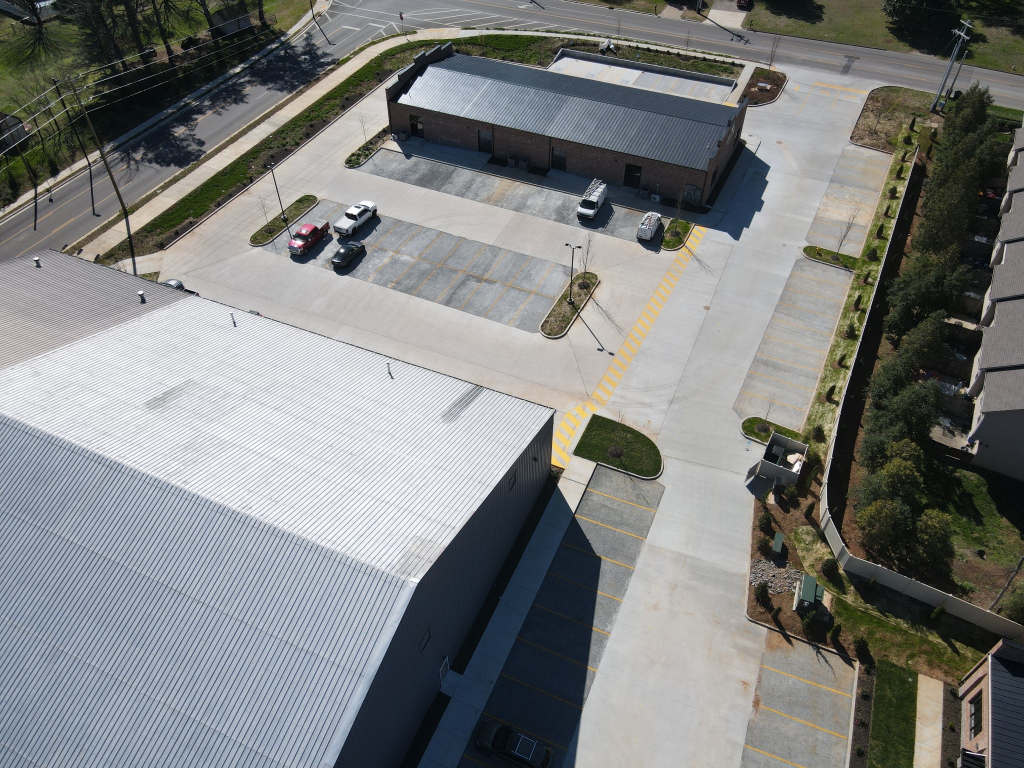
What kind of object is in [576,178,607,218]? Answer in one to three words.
van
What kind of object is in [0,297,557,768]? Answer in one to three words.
warehouse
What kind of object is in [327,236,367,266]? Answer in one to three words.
car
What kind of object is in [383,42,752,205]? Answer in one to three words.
building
